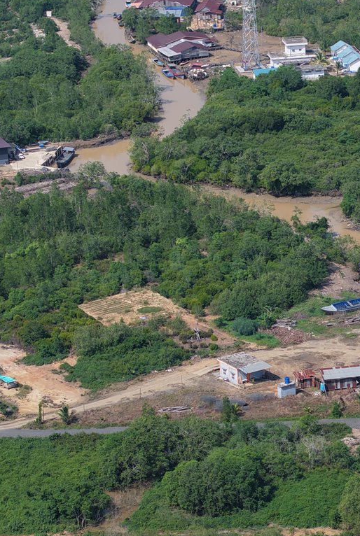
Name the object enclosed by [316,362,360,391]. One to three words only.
shed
